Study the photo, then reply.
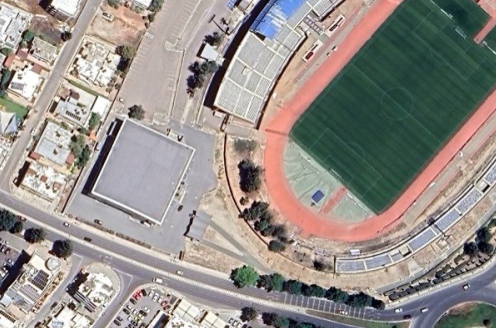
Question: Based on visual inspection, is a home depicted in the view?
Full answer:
Yes, the photo shows a home.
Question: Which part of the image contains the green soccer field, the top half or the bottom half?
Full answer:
Seen from above, the green soccer field lies in the top half of the view.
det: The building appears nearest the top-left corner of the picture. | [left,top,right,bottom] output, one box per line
[0,3,37,58]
